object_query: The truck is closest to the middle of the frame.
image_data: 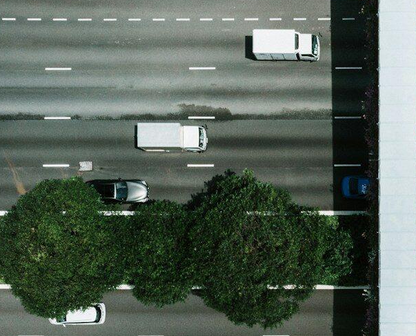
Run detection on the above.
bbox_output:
[135,122,210,152]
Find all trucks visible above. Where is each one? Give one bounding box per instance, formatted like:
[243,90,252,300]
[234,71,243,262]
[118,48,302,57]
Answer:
[135,122,210,152]
[252,26,322,58]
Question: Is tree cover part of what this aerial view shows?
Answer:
Yes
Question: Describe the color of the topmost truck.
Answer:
white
